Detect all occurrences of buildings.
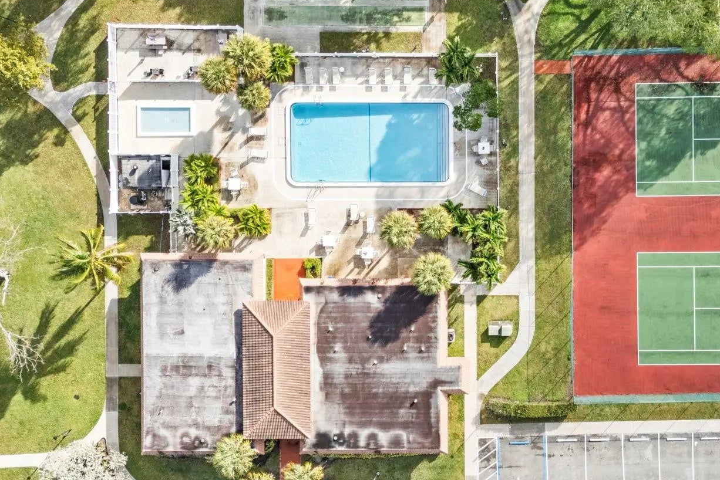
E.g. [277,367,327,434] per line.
[122,157,161,187]
[140,252,470,455]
